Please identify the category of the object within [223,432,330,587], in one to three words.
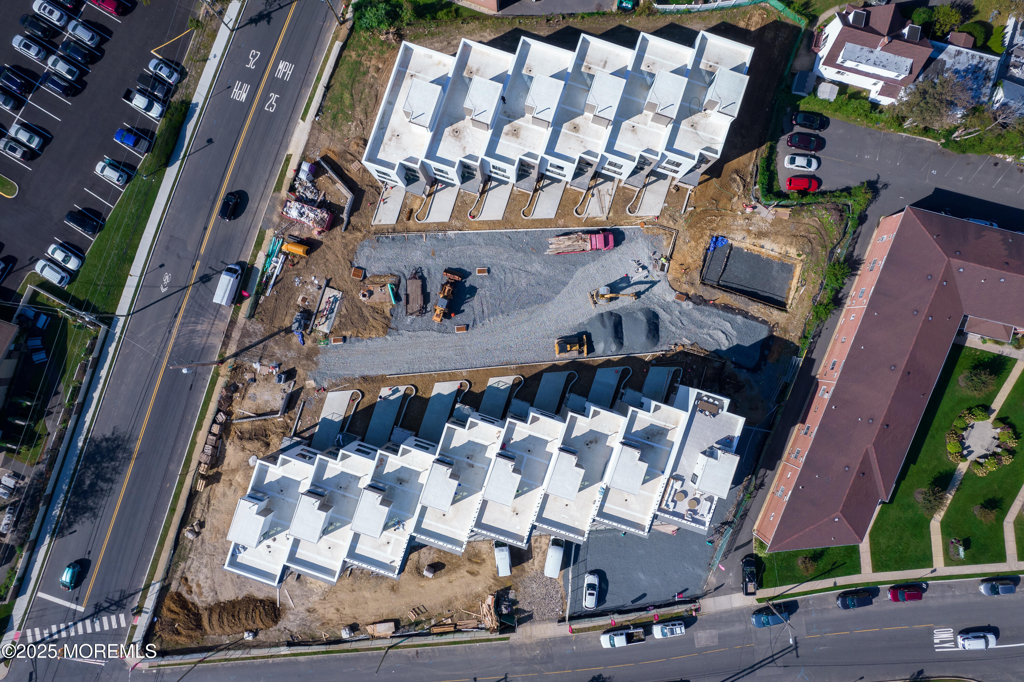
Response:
house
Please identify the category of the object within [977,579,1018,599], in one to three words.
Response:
car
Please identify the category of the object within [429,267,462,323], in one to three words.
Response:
work vehicle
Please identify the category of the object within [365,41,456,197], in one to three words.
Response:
house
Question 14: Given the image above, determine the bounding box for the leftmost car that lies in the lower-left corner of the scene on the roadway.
[60,561,83,593]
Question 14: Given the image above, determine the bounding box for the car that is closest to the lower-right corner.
[956,631,997,653]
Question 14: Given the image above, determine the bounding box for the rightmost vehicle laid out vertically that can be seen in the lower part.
[739,556,757,598]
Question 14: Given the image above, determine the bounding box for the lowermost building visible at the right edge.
[756,205,1024,553]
